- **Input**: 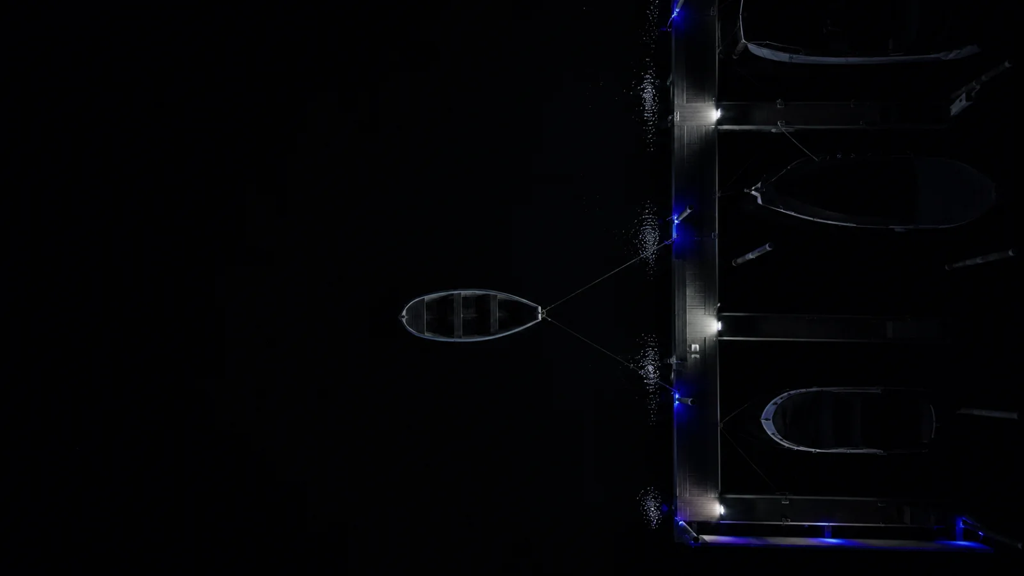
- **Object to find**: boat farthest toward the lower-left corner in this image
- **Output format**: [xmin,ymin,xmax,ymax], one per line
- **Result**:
[399,288,542,343]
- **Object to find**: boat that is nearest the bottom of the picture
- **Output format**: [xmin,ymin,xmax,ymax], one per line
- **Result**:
[760,386,935,454]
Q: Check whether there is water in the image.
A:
Yes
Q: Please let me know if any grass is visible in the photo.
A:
No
